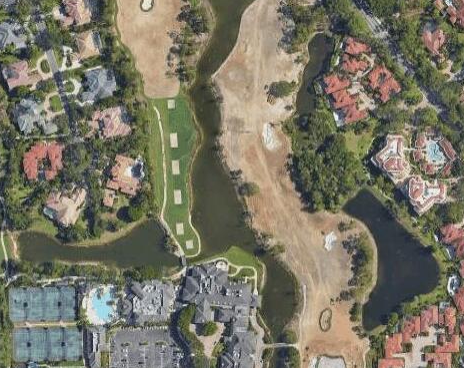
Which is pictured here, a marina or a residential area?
residential area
